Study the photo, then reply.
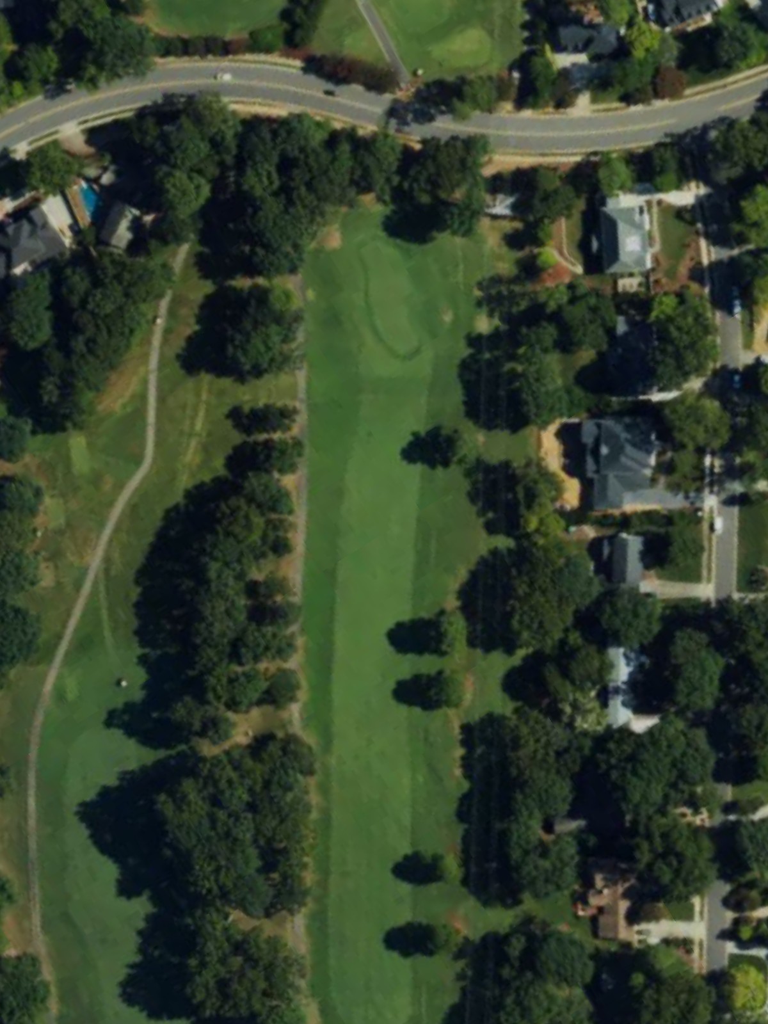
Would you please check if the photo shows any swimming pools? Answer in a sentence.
Yes, there is a swimming pool in the image.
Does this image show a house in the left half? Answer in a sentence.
Yes, a house appears in the left half.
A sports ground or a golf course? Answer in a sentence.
This image shows a golf course.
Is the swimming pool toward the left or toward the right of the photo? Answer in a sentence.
The swimming pool is on the left side of the image.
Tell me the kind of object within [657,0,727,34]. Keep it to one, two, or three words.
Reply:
house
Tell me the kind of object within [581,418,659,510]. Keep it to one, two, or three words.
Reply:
house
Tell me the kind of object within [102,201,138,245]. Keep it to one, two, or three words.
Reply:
shed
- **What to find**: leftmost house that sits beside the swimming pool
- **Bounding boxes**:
[0,204,76,279]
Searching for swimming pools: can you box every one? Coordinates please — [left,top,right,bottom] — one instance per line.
[67,181,108,227]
